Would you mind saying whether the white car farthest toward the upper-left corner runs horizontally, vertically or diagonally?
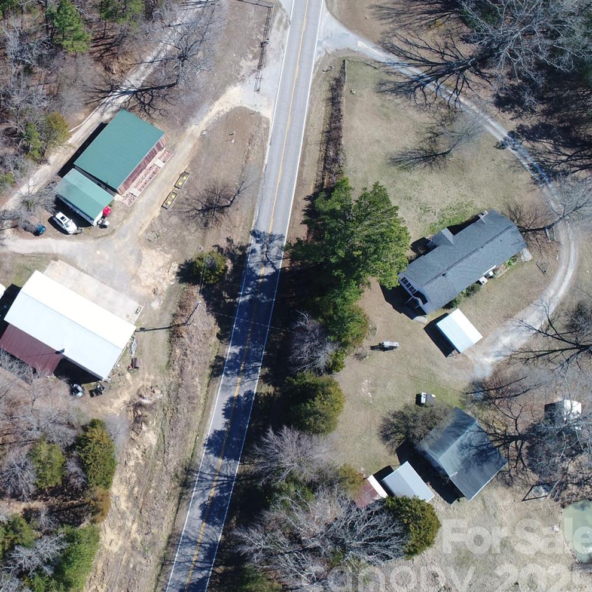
diagonally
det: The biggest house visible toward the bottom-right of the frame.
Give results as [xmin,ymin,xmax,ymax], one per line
[410,409,507,501]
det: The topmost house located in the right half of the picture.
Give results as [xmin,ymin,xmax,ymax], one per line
[389,209,526,318]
